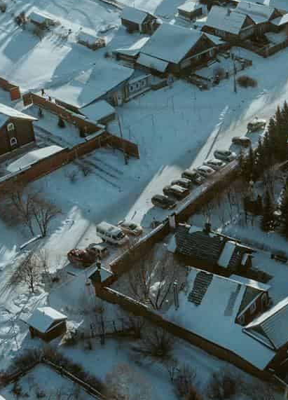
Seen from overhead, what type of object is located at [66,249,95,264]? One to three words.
car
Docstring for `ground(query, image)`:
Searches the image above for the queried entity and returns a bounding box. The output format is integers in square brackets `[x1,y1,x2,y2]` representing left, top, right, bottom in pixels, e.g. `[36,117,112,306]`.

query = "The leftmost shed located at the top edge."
[27,12,57,33]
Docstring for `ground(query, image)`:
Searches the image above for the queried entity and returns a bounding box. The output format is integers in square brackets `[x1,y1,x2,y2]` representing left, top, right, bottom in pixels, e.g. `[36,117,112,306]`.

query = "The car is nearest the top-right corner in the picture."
[245,118,268,131]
